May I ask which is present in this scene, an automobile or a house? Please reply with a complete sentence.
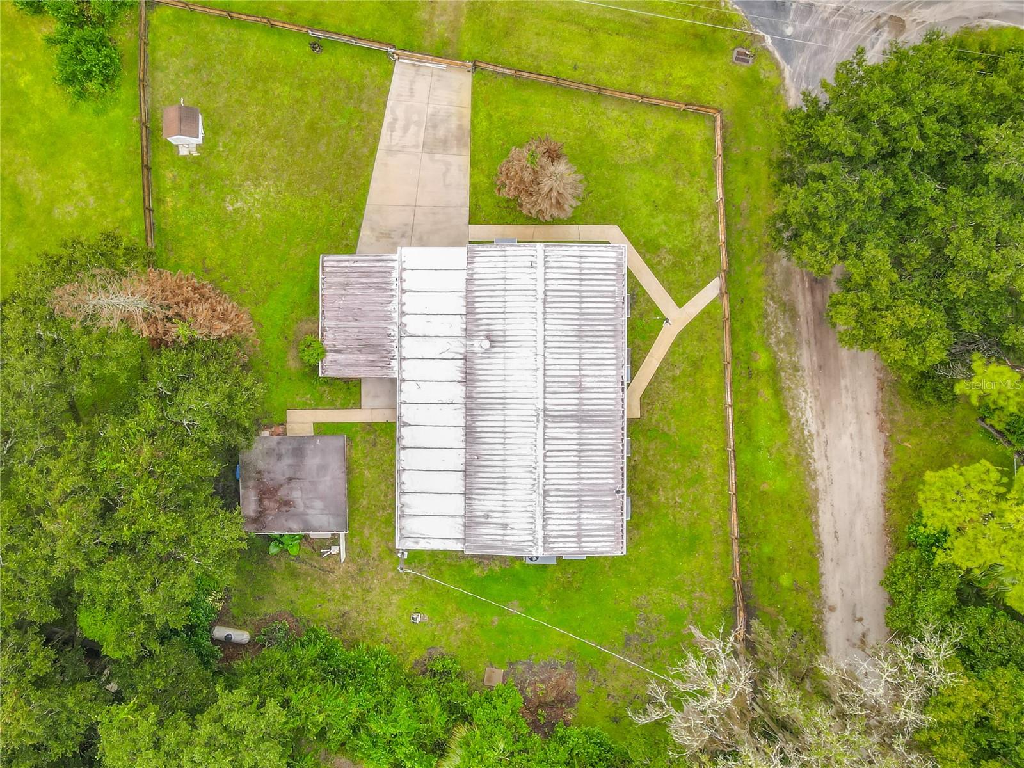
The one in the frame is a house.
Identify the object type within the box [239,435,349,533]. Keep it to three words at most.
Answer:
shed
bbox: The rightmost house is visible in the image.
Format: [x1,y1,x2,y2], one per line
[464,239,630,560]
